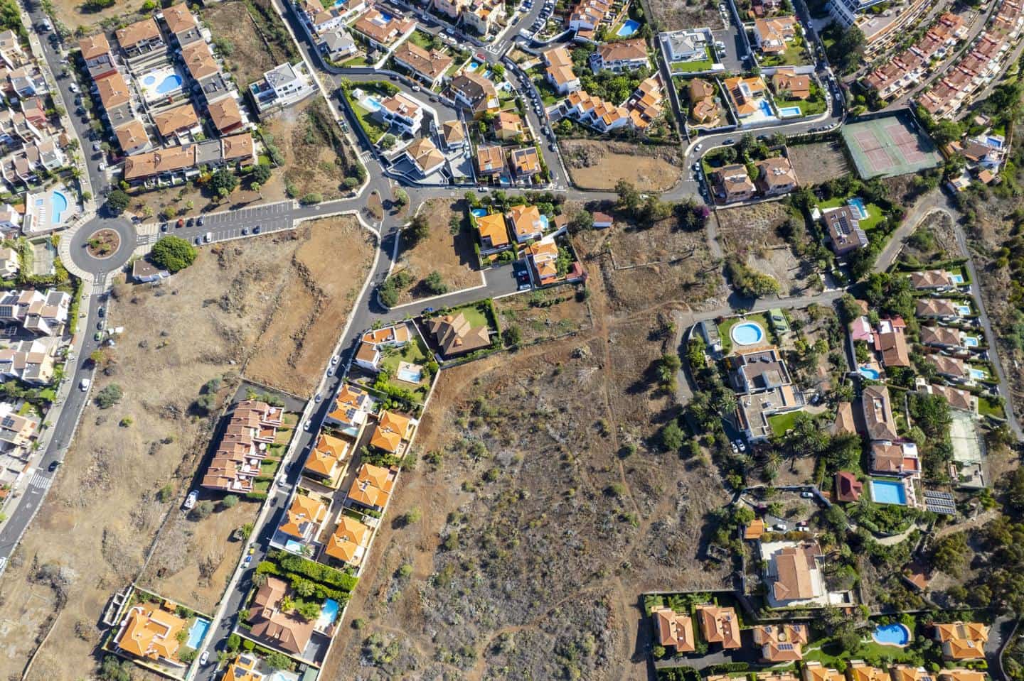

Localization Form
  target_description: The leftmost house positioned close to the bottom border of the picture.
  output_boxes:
[123,609,192,661]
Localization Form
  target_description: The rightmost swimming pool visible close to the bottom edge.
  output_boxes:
[872,623,910,647]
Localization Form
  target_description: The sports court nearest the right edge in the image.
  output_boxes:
[949,412,981,463]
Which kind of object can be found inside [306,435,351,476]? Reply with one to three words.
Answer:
house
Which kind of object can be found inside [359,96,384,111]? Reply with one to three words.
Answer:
swimming pool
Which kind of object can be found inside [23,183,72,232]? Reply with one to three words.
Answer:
swimming pool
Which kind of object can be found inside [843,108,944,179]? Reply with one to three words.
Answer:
tennis court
